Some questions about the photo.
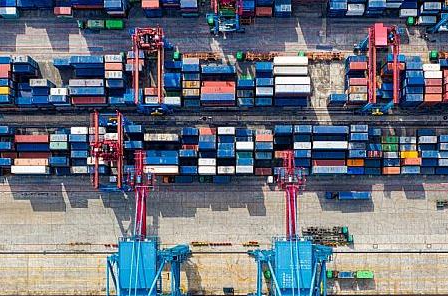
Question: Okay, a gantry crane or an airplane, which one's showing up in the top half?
gantry crane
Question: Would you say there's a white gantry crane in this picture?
No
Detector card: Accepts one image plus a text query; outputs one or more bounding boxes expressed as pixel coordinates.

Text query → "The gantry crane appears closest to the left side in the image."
[91,105,139,189]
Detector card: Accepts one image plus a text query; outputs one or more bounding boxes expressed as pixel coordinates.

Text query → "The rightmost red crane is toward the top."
[351,13,400,117]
